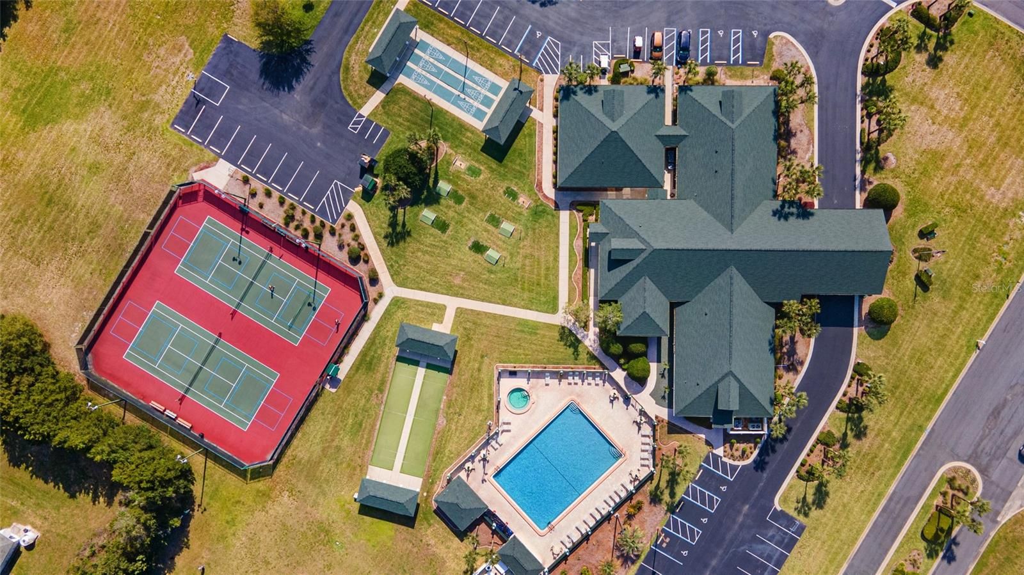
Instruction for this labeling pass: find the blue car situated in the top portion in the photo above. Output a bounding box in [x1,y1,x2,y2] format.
[680,31,694,62]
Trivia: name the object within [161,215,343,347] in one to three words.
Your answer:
tennis court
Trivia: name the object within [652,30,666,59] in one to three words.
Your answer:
car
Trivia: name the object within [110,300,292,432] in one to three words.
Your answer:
tennis court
